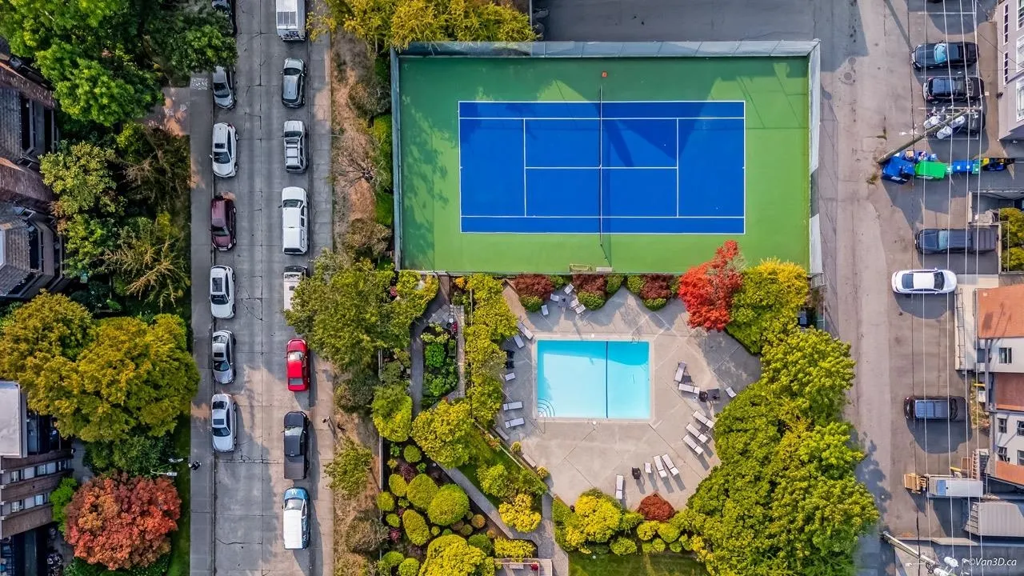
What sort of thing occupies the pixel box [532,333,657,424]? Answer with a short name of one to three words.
swimming pool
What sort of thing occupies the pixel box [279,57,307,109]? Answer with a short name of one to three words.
car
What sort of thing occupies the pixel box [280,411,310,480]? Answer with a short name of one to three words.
truck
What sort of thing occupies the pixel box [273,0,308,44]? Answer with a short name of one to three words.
van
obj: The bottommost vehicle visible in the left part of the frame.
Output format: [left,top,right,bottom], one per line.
[280,487,310,549]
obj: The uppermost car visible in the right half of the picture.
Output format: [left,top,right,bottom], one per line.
[911,41,979,71]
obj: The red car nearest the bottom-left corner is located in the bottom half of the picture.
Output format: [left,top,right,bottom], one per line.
[283,339,311,392]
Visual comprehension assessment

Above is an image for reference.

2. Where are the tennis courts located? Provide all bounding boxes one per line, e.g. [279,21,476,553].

[400,57,811,273]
